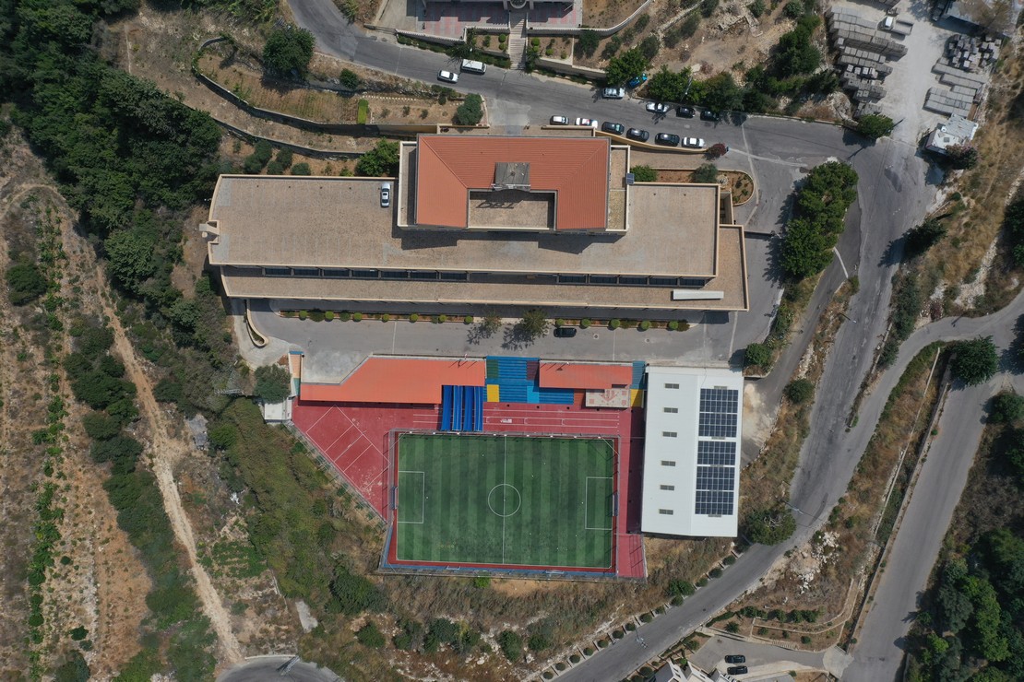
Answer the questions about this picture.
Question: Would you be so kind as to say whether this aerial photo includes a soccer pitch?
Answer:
Yes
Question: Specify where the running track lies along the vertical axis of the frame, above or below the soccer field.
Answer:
above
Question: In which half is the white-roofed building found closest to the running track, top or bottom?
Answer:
bottom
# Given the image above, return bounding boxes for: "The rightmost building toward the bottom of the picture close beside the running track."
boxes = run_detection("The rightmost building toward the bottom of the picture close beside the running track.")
[639,367,744,538]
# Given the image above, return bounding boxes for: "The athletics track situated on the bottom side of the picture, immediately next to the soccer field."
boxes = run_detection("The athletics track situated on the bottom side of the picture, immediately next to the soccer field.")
[412,407,637,430]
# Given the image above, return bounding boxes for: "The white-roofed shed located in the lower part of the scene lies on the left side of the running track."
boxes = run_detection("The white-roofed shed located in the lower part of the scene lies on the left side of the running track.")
[265,401,294,420]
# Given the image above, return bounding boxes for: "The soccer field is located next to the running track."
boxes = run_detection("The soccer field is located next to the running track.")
[383,433,619,575]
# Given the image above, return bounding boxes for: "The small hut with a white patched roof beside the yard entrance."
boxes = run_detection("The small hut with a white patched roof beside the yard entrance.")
[922,114,978,155]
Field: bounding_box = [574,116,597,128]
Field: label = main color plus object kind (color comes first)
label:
white vehicle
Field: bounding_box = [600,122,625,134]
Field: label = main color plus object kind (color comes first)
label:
black vehicle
